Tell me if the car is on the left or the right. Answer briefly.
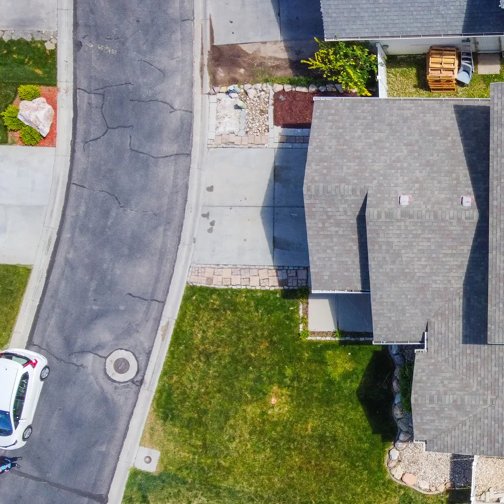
left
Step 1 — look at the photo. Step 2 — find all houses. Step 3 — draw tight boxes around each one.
[301,83,504,459]
[319,0,504,60]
